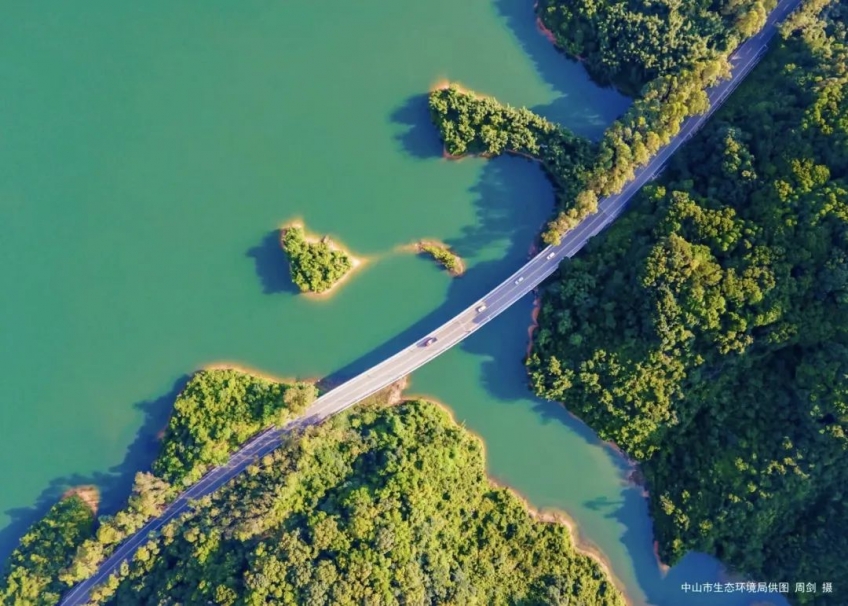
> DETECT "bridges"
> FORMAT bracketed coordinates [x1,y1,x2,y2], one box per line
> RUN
[293,203,613,430]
